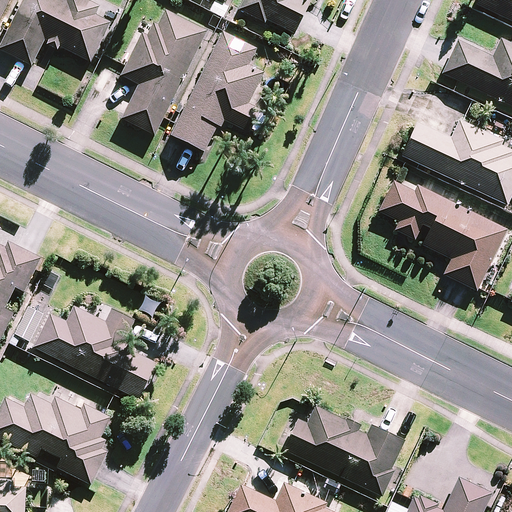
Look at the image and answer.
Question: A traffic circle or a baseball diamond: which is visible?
traffic circle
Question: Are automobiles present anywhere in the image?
Yes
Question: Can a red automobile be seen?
No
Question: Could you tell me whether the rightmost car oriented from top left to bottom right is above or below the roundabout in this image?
below it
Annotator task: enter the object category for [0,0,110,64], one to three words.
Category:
house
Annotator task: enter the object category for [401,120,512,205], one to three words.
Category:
house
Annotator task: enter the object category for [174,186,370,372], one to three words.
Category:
roundabout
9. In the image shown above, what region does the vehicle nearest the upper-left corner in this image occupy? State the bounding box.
[4,62,24,88]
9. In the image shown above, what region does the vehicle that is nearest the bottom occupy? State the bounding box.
[258,470,278,494]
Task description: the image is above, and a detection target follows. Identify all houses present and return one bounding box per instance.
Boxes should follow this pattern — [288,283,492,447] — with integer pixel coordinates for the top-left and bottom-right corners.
[240,0,310,36]
[379,180,508,291]
[404,476,493,512]
[228,482,328,512]
[0,392,111,484]
[284,405,405,495]
[442,38,512,104]
[170,30,264,152]
[30,306,158,398]
[0,240,43,344]
[0,486,26,512]
[119,8,208,136]
[0,0,110,64]
[401,120,512,205]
